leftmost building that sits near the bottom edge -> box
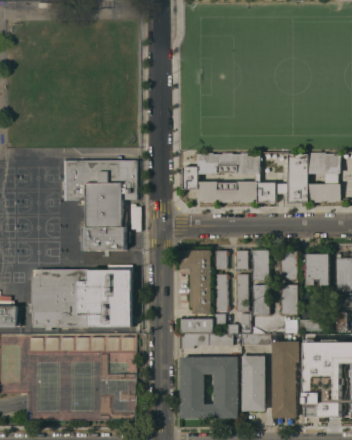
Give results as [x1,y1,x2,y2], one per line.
[180,357,238,418]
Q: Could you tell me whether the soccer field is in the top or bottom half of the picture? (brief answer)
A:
top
